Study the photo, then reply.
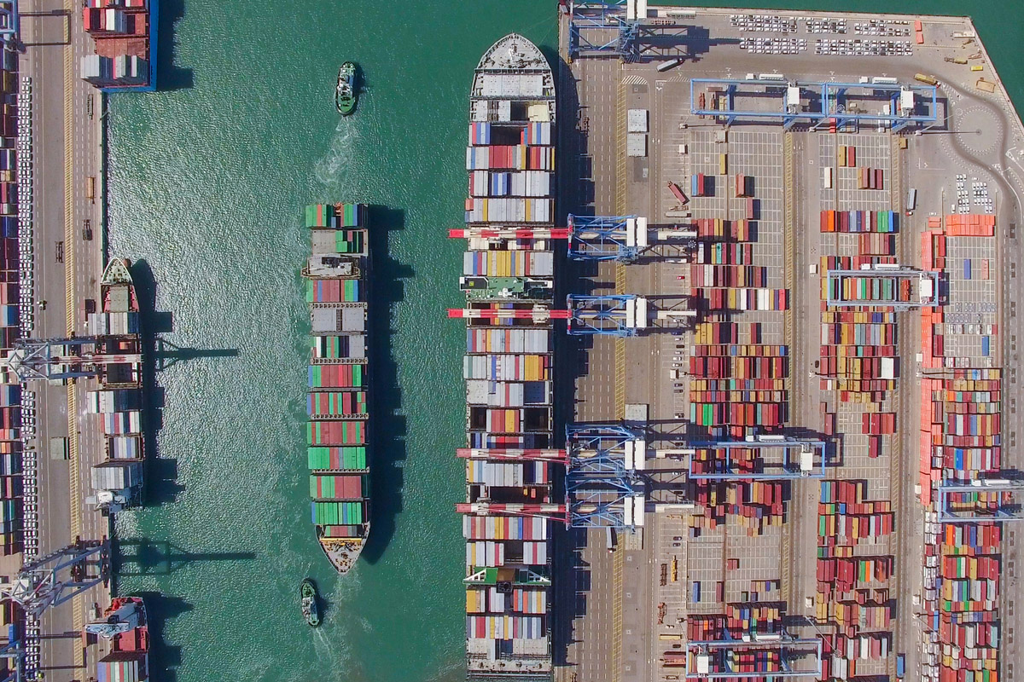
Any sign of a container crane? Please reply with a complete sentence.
Yes, there is a container crane in the image.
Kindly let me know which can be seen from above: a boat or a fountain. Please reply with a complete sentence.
Looking from above, you can make out a boat.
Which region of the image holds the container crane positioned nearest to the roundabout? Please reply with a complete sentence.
The container crane positioned nearest to the roundabout sits in the top right section of the image.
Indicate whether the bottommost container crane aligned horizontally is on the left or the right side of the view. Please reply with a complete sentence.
The bottommost container crane aligned horizontally is on the right side of the image.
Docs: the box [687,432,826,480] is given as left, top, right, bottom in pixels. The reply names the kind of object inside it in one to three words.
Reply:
container crane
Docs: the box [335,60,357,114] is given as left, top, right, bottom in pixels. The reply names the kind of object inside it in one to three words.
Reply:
boat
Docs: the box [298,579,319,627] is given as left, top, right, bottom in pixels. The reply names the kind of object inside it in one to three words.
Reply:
boat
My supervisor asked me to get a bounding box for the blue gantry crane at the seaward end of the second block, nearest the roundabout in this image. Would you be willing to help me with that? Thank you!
[824,77,937,136]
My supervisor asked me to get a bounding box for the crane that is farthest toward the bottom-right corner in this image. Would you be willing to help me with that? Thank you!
[926,476,1024,522]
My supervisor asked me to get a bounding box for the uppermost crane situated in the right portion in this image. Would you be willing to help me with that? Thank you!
[560,0,708,74]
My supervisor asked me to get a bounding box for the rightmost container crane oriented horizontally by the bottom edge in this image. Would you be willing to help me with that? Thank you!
[684,632,822,680]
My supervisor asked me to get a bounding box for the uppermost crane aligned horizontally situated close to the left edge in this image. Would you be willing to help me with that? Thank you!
[0,334,145,384]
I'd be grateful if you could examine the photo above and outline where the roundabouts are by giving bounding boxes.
[957,109,1003,154]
